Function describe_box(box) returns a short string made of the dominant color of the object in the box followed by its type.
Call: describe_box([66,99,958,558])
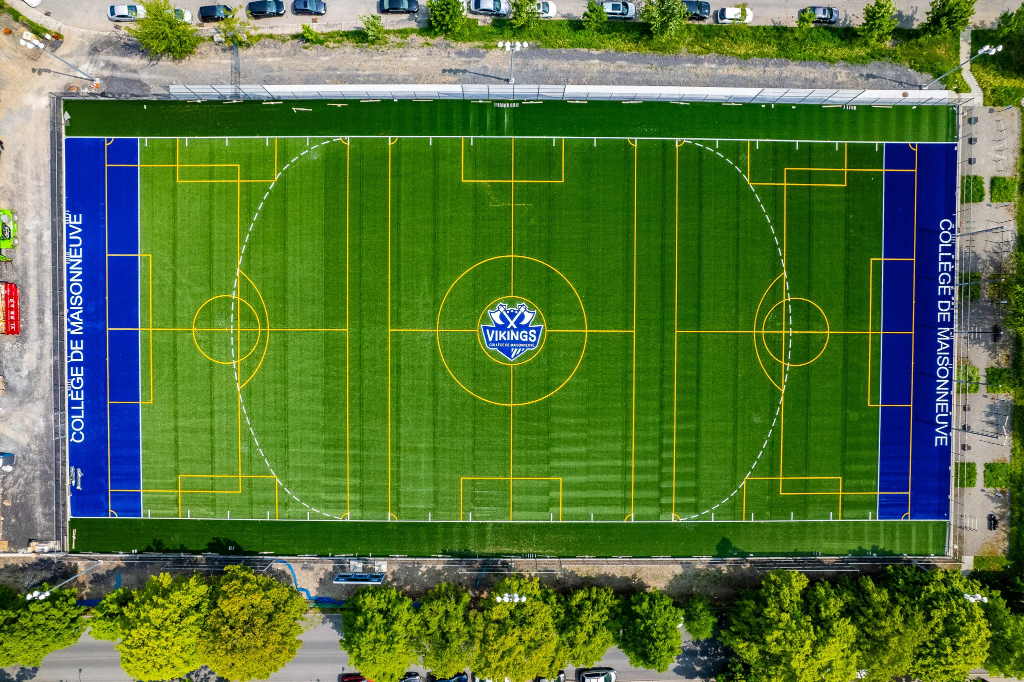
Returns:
green sports field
